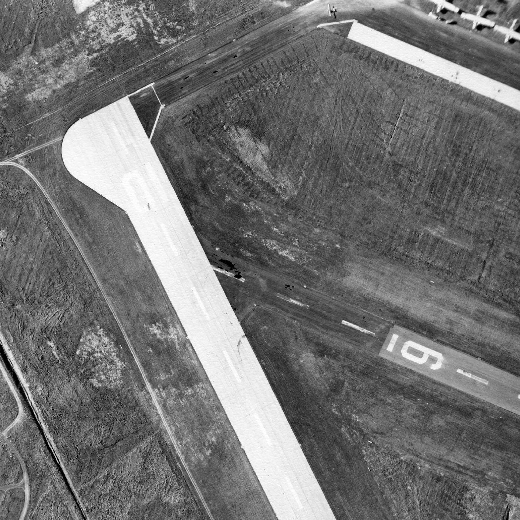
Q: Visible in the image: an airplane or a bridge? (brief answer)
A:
airplane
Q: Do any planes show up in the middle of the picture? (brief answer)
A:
No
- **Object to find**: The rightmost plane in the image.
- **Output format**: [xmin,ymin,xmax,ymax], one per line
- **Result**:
[496,17,520,41]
